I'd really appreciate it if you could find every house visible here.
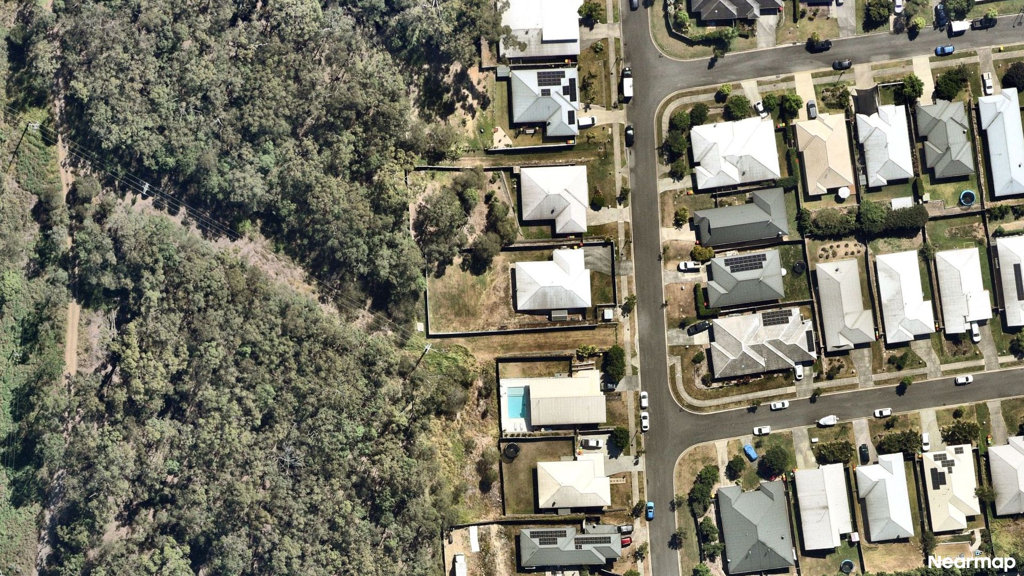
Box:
[520,165,589,234]
[936,247,994,334]
[511,67,580,136]
[857,105,916,187]
[710,307,818,378]
[691,116,782,190]
[694,187,791,246]
[816,258,876,352]
[520,524,622,567]
[796,114,855,195]
[795,463,853,550]
[530,370,606,425]
[997,235,1024,326]
[876,250,937,344]
[923,443,982,532]
[989,436,1024,516]
[707,249,785,308]
[718,480,794,574]
[691,0,783,19]
[916,97,975,178]
[515,248,591,310]
[979,88,1024,196]
[499,0,584,57]
[857,452,916,542]
[537,453,611,509]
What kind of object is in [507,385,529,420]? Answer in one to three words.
swimming pool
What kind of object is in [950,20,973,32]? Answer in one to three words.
vehicle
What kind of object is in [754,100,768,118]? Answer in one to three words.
car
